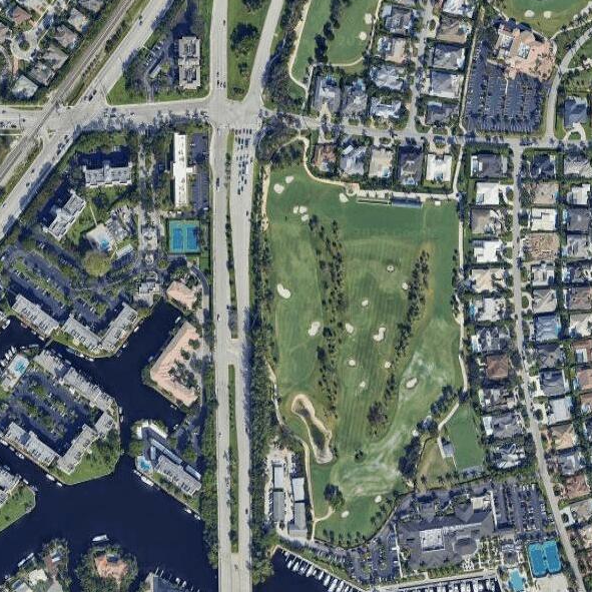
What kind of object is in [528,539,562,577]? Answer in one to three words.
tennis court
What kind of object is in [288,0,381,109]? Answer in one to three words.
golf course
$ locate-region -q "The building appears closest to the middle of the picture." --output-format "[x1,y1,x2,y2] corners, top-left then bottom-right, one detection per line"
[167,281,196,311]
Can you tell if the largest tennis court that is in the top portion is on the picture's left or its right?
left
